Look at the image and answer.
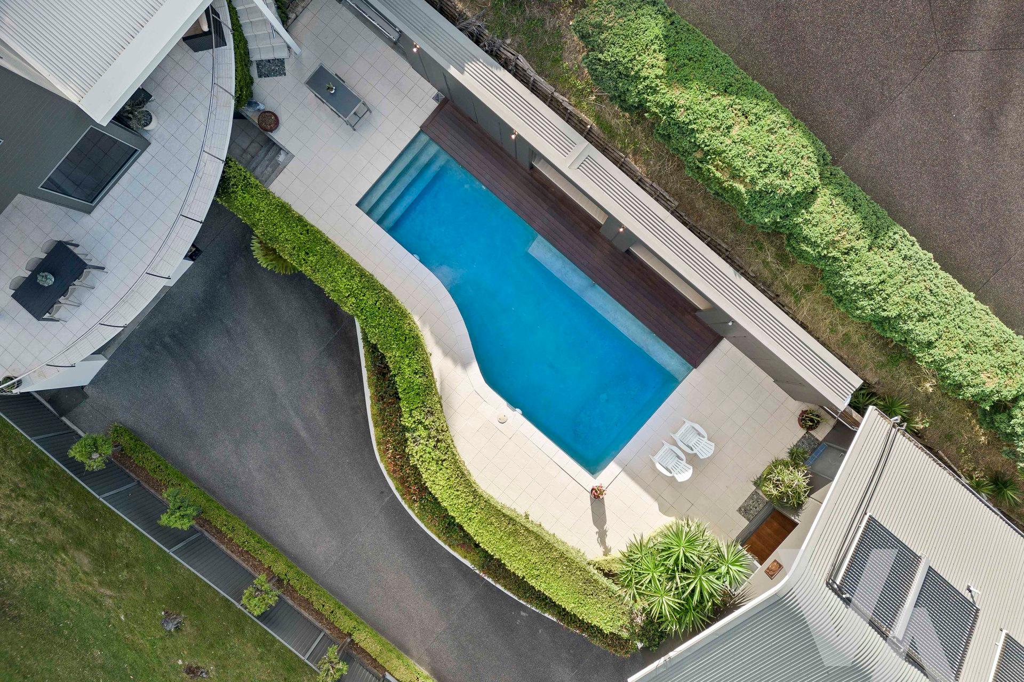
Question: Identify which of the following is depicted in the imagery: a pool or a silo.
pool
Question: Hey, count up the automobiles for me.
0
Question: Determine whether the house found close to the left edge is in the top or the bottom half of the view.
top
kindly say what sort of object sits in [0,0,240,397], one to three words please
house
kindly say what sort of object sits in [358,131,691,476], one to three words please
swimming pool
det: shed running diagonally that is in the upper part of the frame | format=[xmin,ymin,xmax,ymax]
[348,0,870,422]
